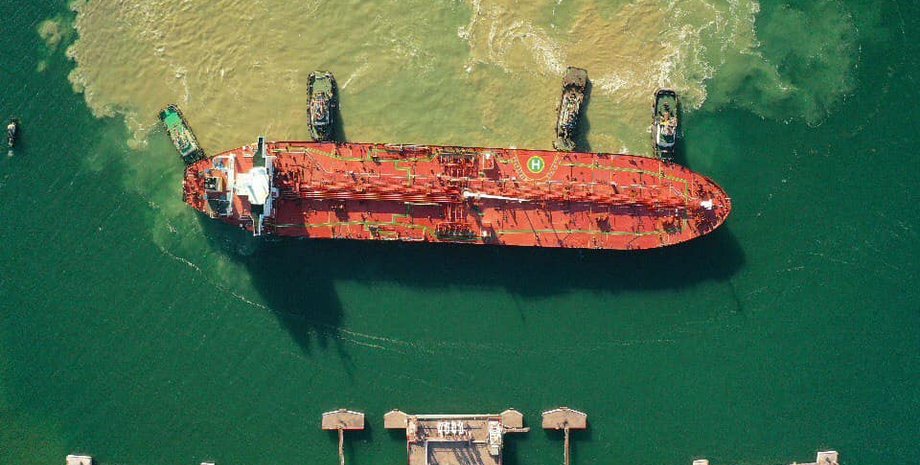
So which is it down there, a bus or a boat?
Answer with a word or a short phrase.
boat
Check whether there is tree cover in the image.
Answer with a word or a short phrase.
No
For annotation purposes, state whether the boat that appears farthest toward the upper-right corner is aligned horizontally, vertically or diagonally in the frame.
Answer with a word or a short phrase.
vertically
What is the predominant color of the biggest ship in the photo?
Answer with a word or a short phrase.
red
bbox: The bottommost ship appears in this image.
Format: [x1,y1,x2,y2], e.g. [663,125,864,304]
[182,137,734,250]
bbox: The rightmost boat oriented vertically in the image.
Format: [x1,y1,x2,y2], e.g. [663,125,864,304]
[650,89,681,163]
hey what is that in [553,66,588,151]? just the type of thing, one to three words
boat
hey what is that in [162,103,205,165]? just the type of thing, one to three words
boat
